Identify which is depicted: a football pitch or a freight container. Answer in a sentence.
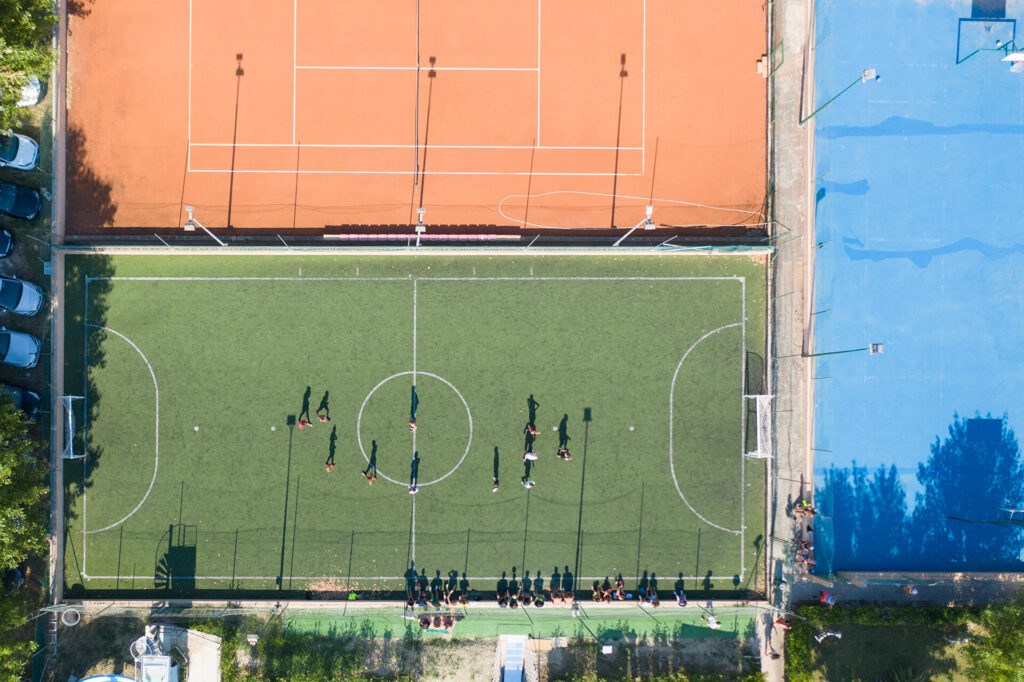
There is a football pitch in the scene.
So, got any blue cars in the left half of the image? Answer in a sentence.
Yes, a blue car can be seen in the left half of the image.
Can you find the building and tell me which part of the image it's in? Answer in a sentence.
Look in the bottom left portion of the view to spot the building.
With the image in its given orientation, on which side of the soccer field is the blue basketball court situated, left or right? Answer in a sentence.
To the right of the soccer field is where the blue basketball court appears.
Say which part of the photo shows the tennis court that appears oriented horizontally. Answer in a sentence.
You can find the tennis court that appears oriented horizontally in the top area of the picture.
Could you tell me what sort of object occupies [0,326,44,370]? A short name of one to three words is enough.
car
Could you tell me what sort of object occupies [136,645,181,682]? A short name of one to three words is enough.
building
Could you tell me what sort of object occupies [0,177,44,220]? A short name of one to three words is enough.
car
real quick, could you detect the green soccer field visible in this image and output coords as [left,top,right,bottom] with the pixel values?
[65,255,766,598]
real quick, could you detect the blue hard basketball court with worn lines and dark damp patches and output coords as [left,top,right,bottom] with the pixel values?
[818,0,1024,572]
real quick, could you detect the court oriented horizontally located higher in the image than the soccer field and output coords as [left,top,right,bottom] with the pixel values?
[65,0,766,240]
